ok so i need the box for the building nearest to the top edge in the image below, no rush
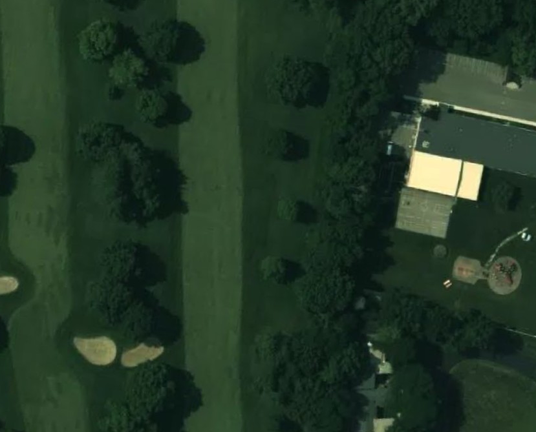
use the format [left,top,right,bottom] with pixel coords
[415,109,536,177]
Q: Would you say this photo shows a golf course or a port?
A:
golf course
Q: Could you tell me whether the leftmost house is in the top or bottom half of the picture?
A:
bottom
